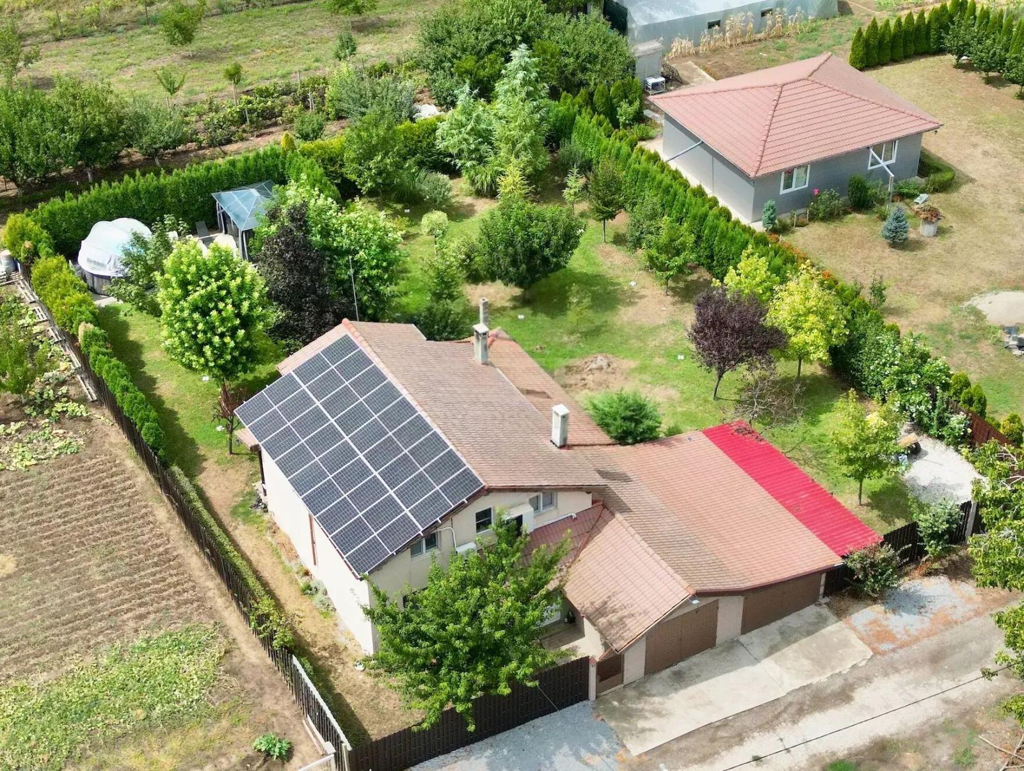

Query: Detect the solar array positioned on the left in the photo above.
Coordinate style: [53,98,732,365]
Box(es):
[236,334,484,576]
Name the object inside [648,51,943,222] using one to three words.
house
